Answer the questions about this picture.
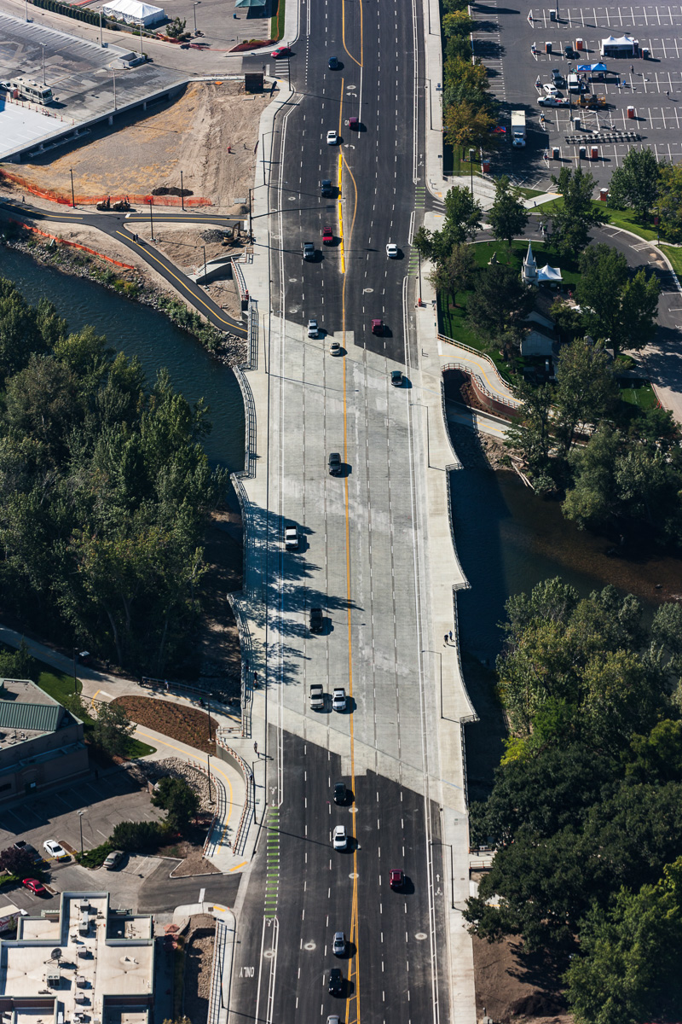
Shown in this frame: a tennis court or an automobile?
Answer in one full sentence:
Looking from above, you can make out an automobile.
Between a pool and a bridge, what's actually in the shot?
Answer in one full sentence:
Looking from above, you can make out a bridge.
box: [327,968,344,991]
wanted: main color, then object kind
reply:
black car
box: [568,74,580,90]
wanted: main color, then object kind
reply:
white vehicle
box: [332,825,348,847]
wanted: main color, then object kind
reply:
white car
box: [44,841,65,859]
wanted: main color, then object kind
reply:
white car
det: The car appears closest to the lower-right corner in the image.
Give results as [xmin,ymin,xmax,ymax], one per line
[389,869,405,887]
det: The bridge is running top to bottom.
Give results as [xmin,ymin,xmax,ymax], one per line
[226,289,482,810]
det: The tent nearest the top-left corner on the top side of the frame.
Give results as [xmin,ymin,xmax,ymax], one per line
[99,0,168,28]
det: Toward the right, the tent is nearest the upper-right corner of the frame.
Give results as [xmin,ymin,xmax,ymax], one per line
[601,37,640,62]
